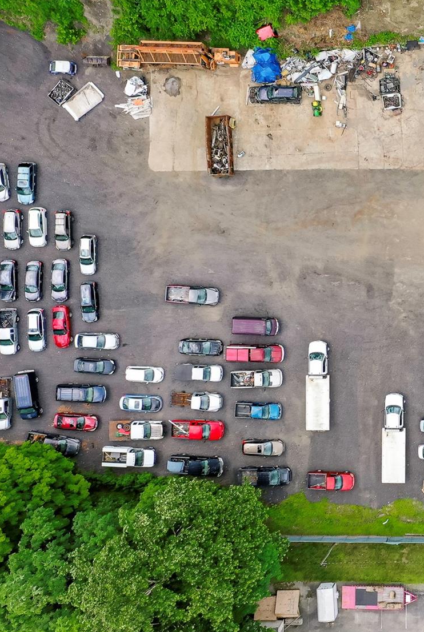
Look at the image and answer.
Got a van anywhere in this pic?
Yes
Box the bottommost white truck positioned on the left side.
[98,445,157,470]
